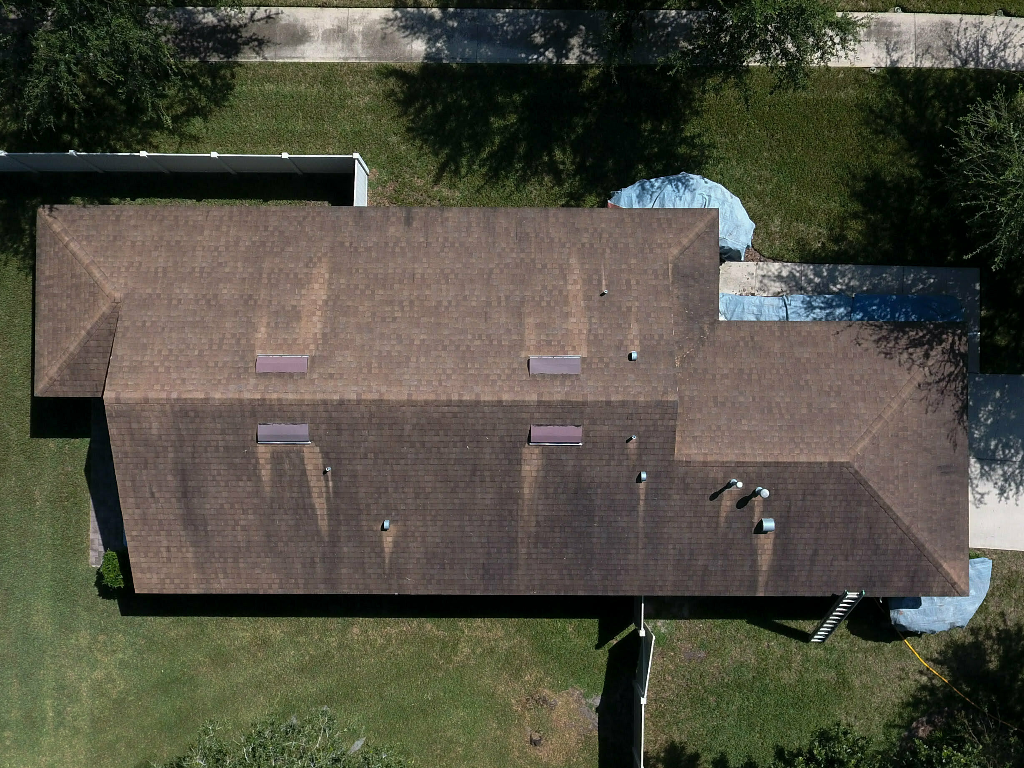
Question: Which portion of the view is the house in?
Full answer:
The house is in the center part of the image.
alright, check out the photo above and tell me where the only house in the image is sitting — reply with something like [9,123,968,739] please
[34,205,970,597]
